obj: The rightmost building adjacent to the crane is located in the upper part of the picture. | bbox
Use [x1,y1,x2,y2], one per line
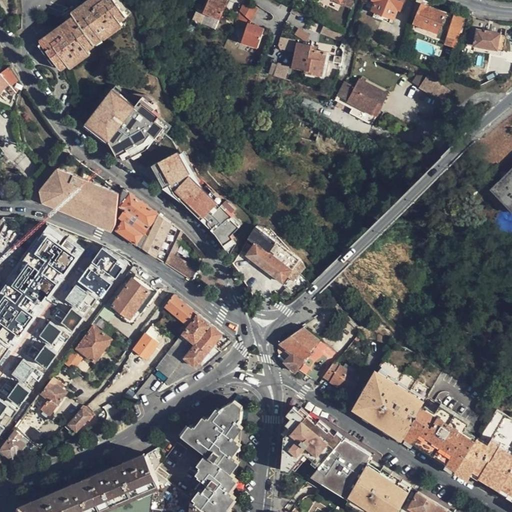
[151,151,244,254]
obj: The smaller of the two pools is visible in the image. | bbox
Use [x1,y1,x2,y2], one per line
[473,53,486,69]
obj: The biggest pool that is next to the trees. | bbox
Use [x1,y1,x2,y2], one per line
[414,36,442,58]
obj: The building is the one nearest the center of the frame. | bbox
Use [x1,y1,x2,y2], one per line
[232,225,306,286]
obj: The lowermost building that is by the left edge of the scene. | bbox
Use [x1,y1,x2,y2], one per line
[14,448,175,512]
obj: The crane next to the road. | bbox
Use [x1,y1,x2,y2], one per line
[0,175,95,264]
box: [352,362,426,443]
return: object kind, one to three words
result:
building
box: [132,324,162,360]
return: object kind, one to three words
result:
house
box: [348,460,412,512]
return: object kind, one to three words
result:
building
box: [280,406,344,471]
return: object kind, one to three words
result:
house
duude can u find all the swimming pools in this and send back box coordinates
[414,36,442,58]
[473,53,486,69]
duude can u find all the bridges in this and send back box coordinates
[304,138,471,297]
